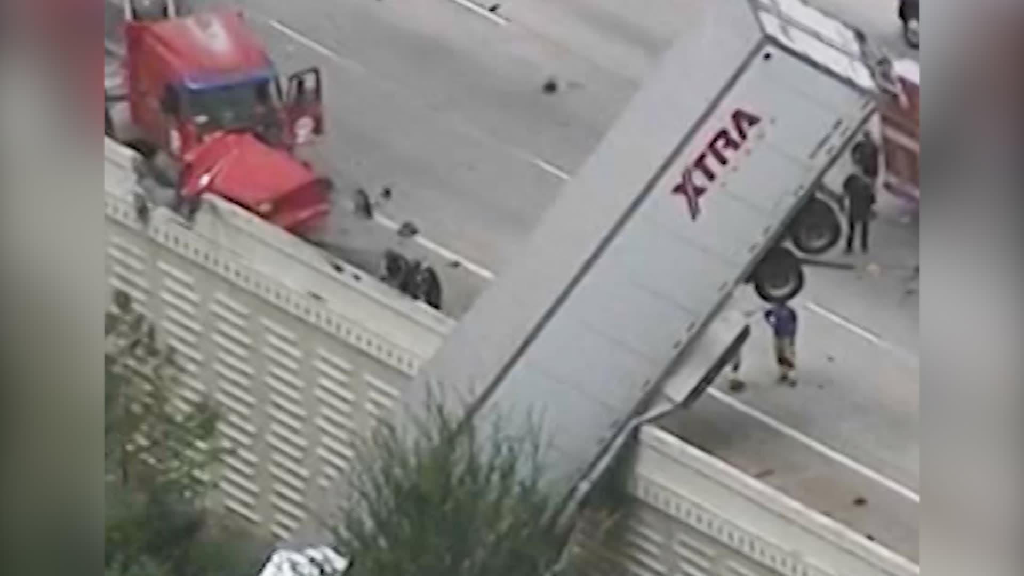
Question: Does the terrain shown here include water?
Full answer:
No, the picture contains no water.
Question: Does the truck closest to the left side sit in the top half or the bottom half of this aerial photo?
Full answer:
The truck closest to the left side is in the top half of the image.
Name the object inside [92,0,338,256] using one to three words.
truck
